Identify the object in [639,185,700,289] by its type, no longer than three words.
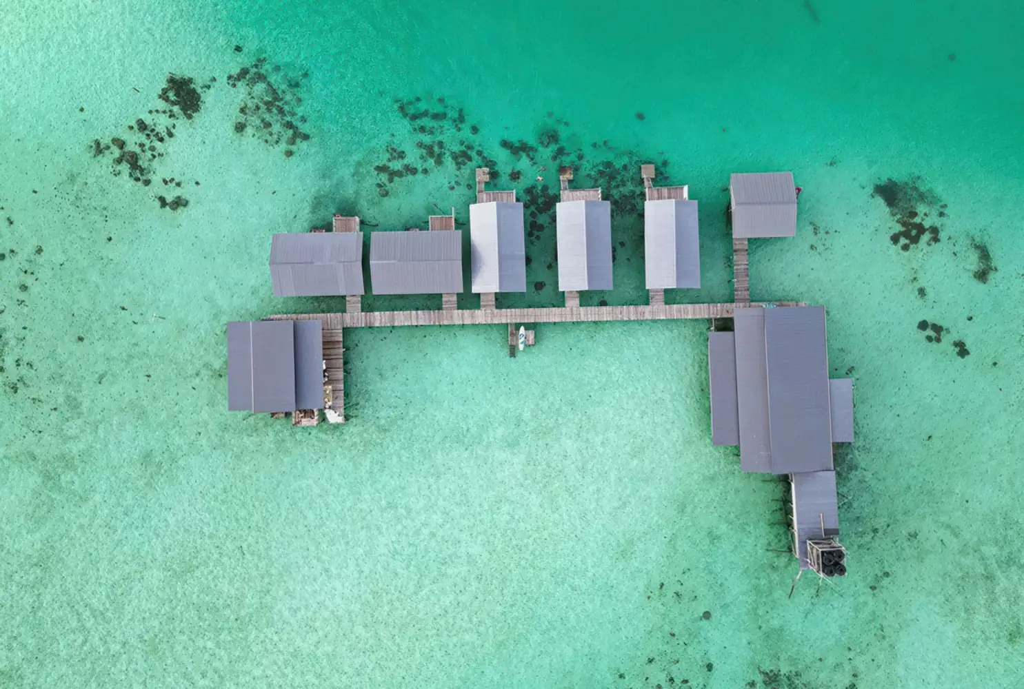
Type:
shed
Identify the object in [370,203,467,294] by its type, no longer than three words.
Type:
shed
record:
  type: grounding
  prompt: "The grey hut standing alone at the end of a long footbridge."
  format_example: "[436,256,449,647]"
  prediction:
[722,172,797,238]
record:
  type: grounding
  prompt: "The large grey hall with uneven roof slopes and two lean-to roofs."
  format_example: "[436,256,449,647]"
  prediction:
[706,305,854,473]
